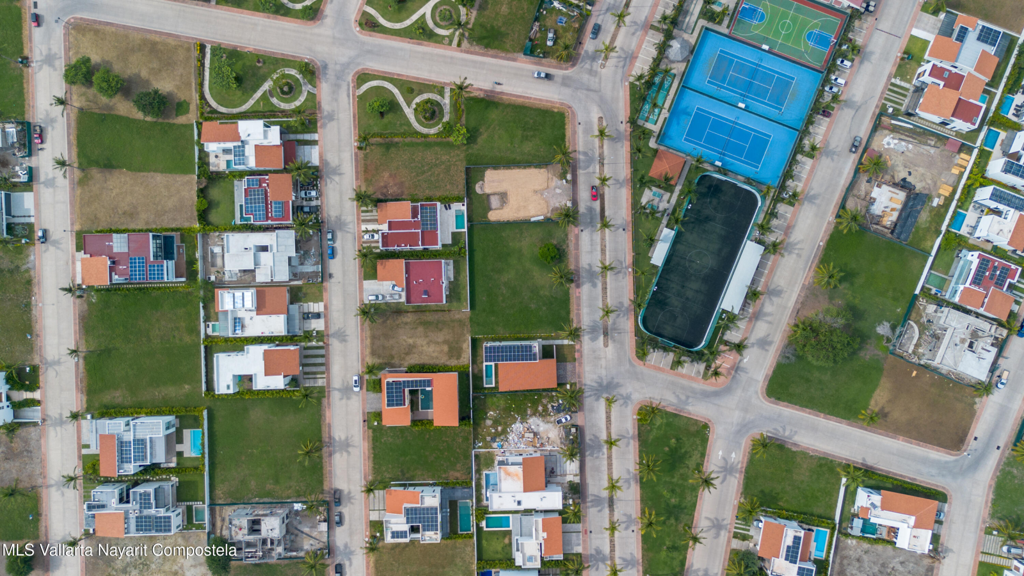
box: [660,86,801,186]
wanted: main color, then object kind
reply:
blue tennis court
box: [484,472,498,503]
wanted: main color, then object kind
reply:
blue swimming pool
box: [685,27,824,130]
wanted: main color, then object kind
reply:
blue tennis court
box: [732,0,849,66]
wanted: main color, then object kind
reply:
green basketball court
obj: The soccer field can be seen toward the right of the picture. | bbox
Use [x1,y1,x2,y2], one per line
[640,168,769,352]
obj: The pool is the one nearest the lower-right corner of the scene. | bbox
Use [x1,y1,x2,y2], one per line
[861,517,878,536]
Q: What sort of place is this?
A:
residential area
